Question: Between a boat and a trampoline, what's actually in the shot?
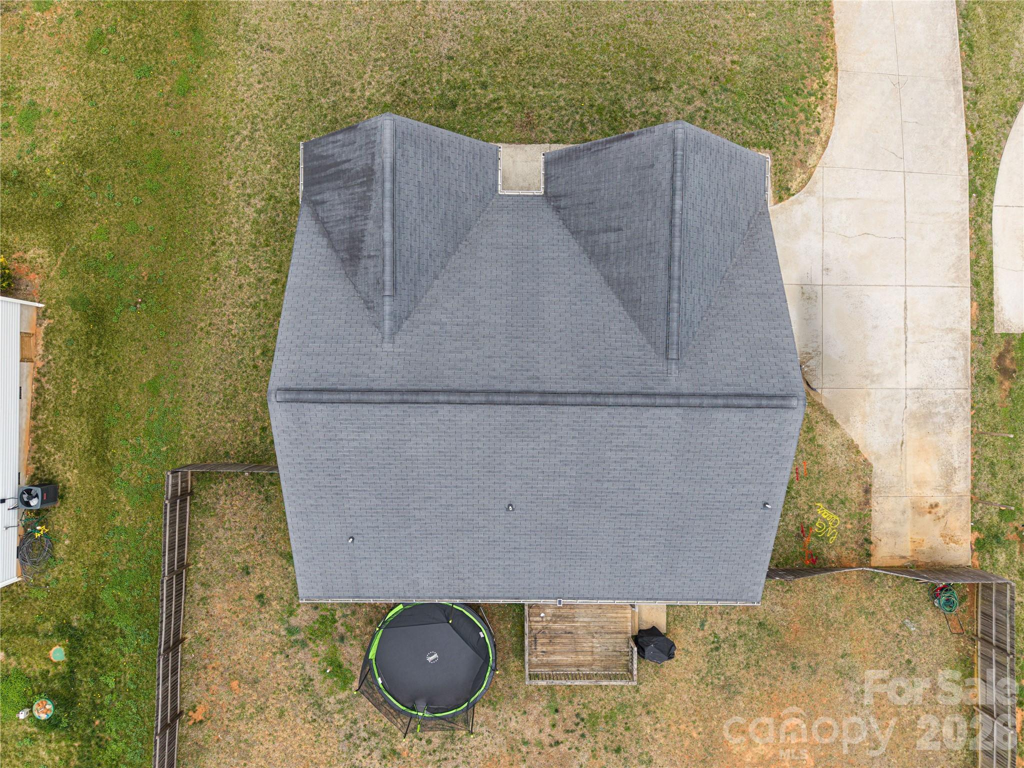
trampoline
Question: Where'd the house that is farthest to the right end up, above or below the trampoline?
above it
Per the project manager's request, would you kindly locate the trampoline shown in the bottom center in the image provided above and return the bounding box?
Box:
[354,603,499,741]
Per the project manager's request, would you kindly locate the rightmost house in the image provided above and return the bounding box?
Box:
[267,114,810,607]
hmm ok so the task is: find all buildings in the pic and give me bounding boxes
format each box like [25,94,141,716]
[0,298,46,588]
[267,114,810,607]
